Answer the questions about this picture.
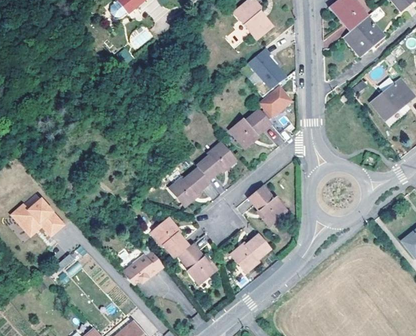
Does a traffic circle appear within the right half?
Yes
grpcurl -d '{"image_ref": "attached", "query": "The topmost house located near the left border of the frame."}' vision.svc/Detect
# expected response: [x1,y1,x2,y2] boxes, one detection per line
[10,198,66,238]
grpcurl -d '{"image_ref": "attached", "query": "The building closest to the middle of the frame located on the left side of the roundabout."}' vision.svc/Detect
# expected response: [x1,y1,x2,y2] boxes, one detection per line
[168,142,238,208]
